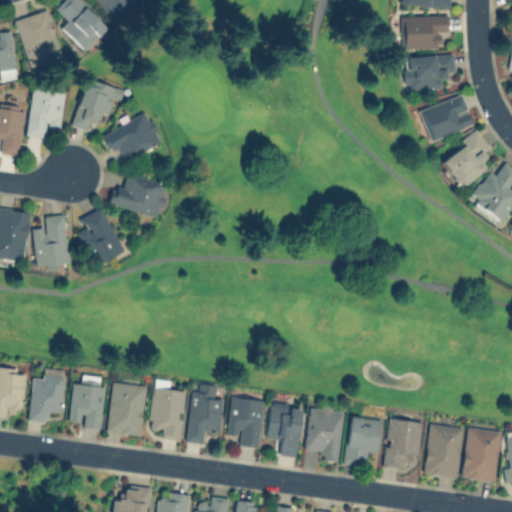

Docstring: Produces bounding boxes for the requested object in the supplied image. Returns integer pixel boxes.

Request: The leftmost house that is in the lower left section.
[0,371,28,423]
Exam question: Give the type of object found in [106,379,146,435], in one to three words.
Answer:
house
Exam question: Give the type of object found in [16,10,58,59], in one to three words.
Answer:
house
